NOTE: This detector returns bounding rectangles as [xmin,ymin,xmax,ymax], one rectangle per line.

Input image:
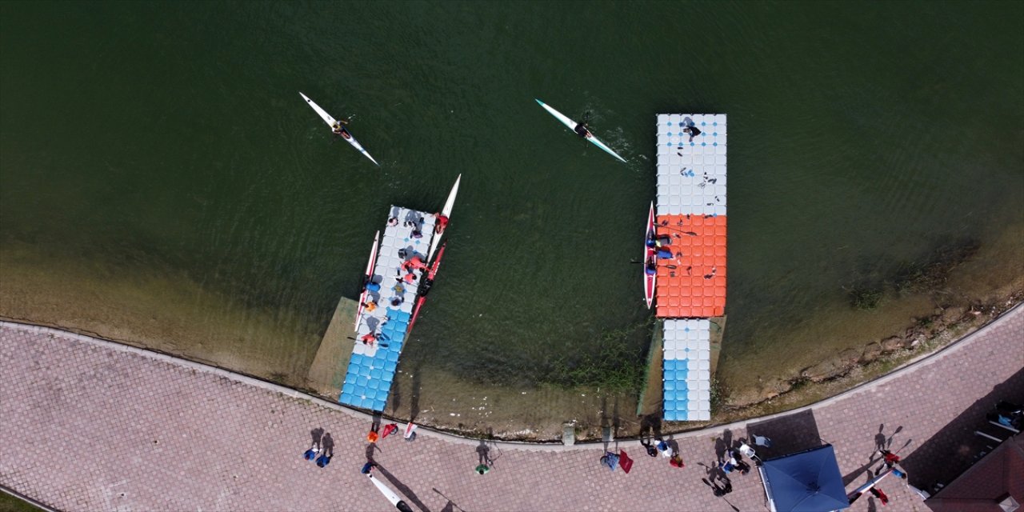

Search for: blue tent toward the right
[754,436,850,512]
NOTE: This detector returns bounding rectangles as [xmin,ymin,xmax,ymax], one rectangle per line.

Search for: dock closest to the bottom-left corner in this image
[339,205,437,413]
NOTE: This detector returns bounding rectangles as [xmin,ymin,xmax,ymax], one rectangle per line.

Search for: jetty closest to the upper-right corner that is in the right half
[656,113,727,318]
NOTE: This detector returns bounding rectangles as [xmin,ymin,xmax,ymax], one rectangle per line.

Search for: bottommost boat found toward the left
[369,476,414,512]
